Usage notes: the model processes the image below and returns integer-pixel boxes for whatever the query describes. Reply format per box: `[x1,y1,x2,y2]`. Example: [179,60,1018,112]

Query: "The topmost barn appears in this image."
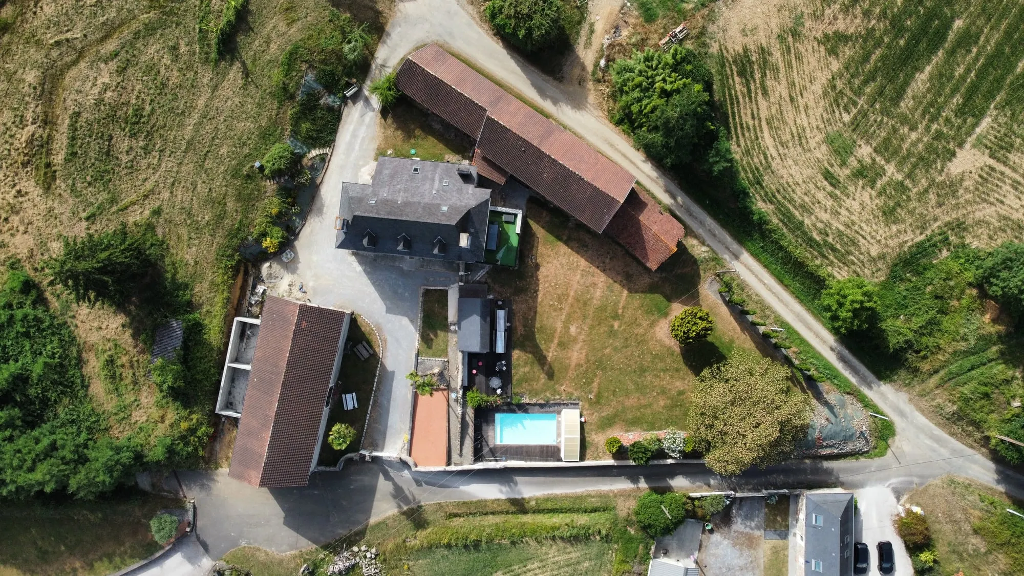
[396,43,505,144]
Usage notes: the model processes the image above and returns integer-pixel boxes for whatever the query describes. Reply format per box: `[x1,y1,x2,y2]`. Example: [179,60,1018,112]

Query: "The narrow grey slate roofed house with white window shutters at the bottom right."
[795,487,855,576]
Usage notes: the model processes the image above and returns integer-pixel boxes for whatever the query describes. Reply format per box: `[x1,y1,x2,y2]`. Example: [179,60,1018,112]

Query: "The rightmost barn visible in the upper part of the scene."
[601,183,685,270]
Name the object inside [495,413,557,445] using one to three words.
swimming pool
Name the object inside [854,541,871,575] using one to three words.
car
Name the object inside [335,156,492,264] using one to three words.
house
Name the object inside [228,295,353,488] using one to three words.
barn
